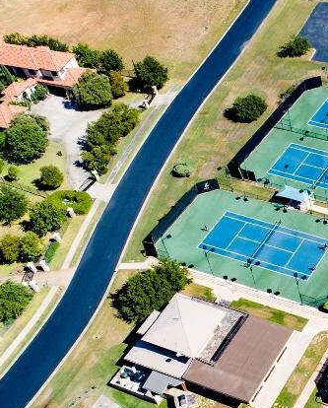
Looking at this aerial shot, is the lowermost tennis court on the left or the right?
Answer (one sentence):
You can find the lowermost tennis court on the right side of the picture.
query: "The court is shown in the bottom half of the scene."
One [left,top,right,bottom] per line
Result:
[157,189,328,308]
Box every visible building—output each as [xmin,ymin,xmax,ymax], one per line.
[126,293,295,408]
[0,42,87,134]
